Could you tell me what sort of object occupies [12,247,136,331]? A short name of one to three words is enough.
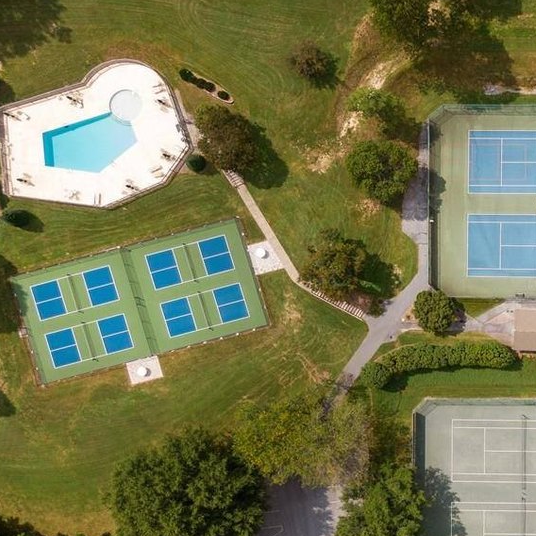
sports court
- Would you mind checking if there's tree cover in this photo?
Yes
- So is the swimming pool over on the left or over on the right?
left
